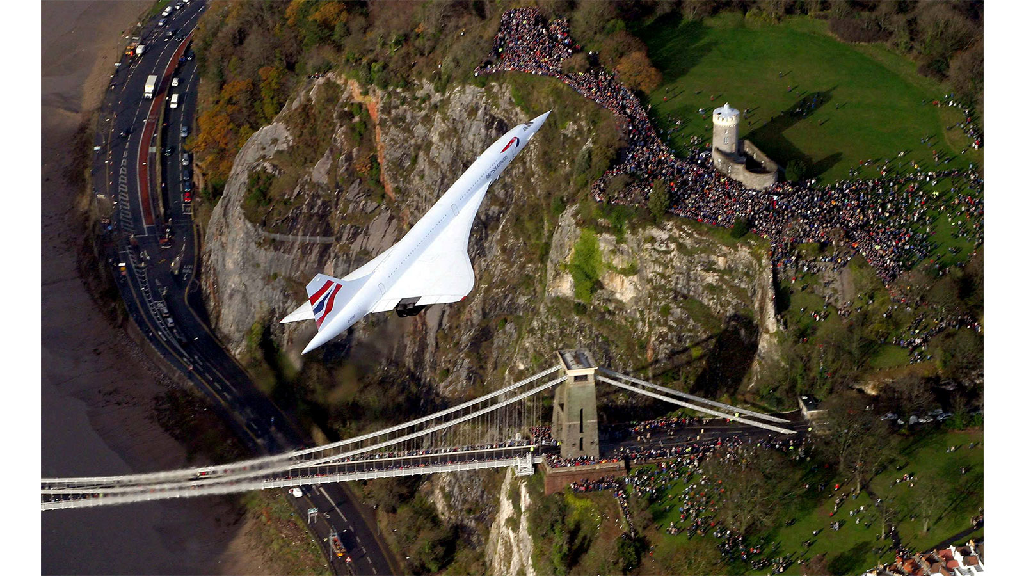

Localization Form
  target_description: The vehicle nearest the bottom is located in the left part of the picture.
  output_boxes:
[327,530,347,549]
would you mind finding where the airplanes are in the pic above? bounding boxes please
[277,110,552,355]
